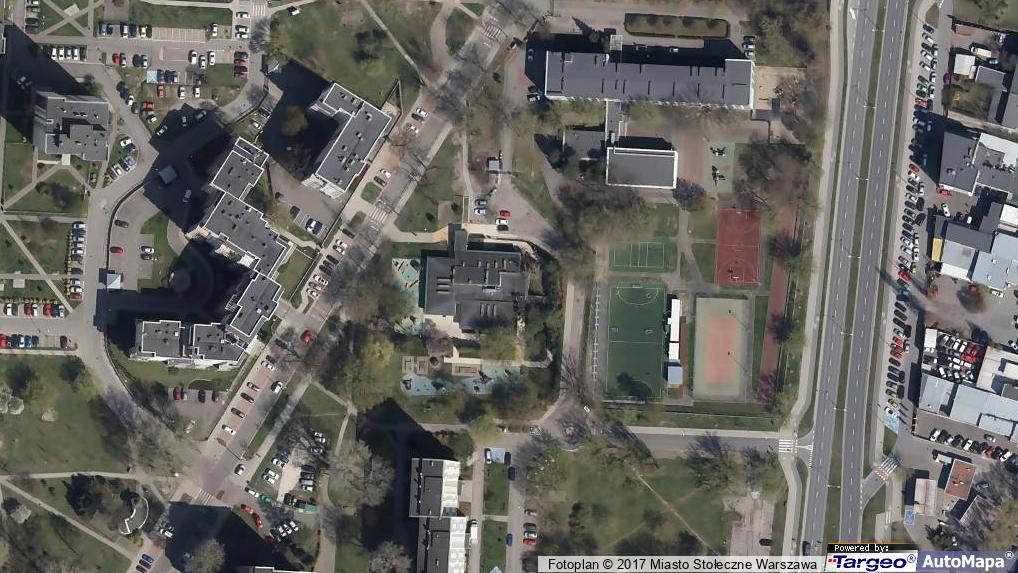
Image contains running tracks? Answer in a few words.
Yes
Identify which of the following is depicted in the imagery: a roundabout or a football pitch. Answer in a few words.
football pitch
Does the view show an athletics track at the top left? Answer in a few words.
No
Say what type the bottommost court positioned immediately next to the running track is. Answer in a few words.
tennis court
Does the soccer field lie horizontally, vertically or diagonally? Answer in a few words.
vertically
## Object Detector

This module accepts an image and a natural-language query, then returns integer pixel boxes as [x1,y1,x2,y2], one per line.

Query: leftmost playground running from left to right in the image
[402,372,453,396]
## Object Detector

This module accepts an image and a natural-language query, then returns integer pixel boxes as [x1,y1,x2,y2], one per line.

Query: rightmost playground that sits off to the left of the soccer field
[458,364,520,394]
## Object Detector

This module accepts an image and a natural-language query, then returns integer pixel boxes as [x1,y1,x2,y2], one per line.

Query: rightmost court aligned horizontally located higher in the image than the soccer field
[609,241,677,271]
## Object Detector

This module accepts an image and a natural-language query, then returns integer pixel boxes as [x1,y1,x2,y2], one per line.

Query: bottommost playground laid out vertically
[391,258,424,337]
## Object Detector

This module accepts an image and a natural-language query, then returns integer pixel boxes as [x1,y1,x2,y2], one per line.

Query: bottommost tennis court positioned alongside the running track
[693,297,748,398]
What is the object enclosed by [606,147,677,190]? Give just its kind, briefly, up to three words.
building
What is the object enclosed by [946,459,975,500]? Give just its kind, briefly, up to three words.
house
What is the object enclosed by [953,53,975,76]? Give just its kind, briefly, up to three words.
shed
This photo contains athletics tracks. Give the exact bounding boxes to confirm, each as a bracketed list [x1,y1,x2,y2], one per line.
[757,204,800,402]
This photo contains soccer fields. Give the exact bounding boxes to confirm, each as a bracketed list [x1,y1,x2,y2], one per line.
[603,283,667,402]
